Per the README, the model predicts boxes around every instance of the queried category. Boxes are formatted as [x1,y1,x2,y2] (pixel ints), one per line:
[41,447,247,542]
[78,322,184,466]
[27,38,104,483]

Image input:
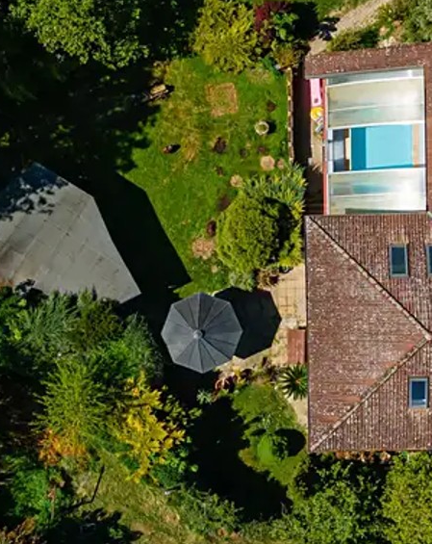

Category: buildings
[0,163,141,302]
[302,36,432,455]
